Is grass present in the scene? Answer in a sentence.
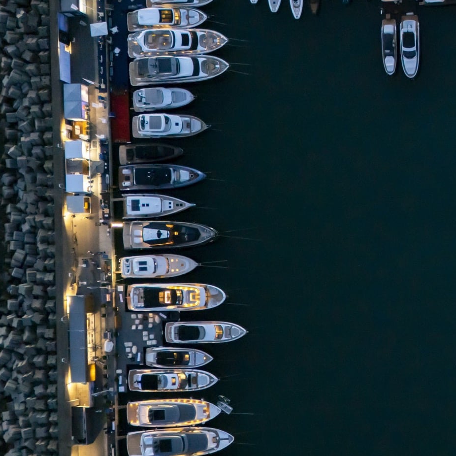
No, no grass is visible.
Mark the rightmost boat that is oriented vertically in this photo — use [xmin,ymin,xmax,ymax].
[399,8,419,79]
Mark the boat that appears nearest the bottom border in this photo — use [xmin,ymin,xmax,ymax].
[127,424,253,456]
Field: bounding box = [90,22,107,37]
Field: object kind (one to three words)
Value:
umbrella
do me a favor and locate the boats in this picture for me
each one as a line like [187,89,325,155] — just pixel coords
[124,219,227,251]
[132,85,201,112]
[119,142,193,165]
[419,0,456,7]
[127,28,247,58]
[109,253,205,278]
[127,7,217,31]
[268,0,282,13]
[128,53,246,84]
[127,396,232,426]
[289,0,304,18]
[127,283,241,312]
[145,347,220,368]
[127,424,253,456]
[127,368,233,391]
[119,164,208,192]
[399,8,419,79]
[132,114,216,141]
[218,395,231,406]
[381,9,398,75]
[121,194,209,217]
[217,402,236,414]
[165,321,262,343]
